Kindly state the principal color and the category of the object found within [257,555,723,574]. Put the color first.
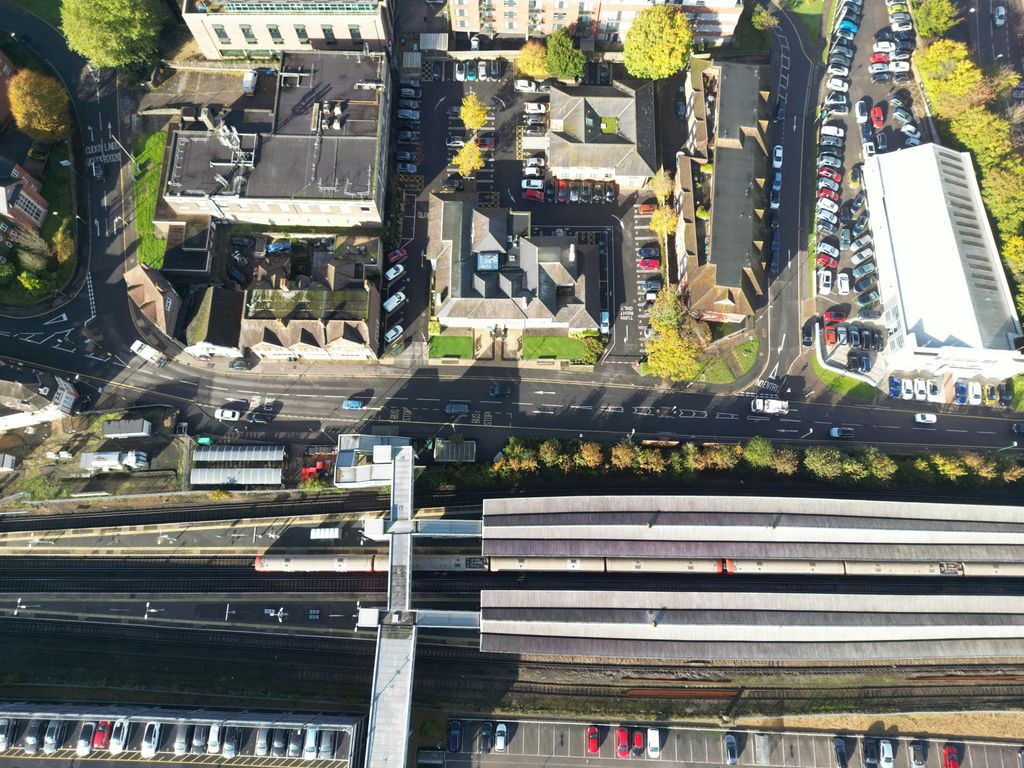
white train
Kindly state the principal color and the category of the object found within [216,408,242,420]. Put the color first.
white vehicle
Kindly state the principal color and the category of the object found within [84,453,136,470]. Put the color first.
white vehicle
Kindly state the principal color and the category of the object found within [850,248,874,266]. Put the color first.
white car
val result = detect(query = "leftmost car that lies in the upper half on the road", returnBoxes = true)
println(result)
[92,163,106,184]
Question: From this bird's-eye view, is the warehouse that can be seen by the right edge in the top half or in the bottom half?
top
